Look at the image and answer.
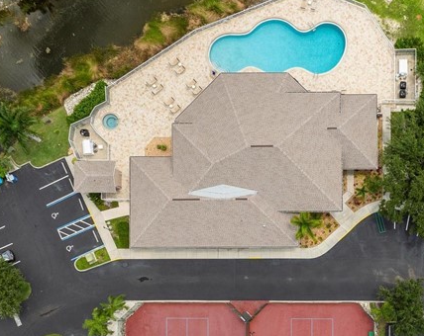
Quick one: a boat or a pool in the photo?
pool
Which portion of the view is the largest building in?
center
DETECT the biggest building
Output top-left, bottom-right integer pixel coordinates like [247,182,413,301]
[130,72,377,248]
